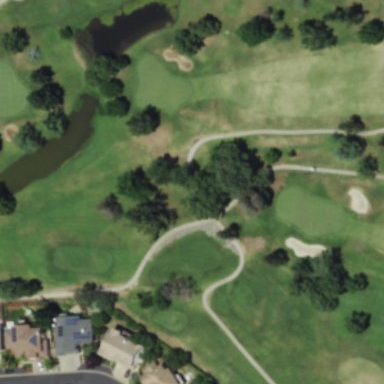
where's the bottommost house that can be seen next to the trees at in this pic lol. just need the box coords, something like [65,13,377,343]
[138,358,184,384]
